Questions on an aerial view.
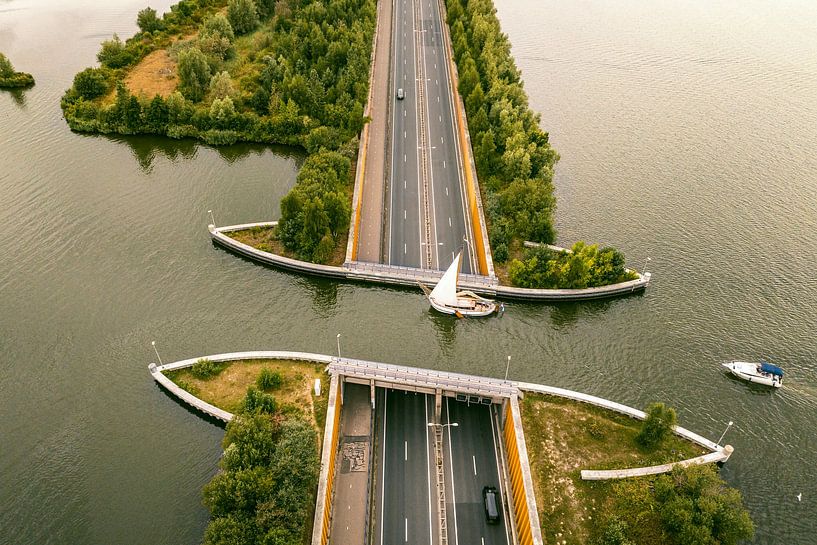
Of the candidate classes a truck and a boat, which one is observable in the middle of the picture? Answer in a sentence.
There is a boat in the middle of the picture.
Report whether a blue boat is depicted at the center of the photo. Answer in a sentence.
No, the scene shows no blue boat at the center of the photo.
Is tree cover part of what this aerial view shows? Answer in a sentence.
Yes, tree cover shows up in the scene.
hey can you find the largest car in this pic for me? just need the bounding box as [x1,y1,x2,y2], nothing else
[483,488,501,525]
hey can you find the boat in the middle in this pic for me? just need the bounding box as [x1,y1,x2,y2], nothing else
[417,247,506,318]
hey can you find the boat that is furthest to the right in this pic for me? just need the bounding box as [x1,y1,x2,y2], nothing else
[723,359,783,389]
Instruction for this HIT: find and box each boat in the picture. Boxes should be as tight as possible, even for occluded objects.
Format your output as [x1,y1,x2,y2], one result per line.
[723,359,783,389]
[417,247,506,318]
